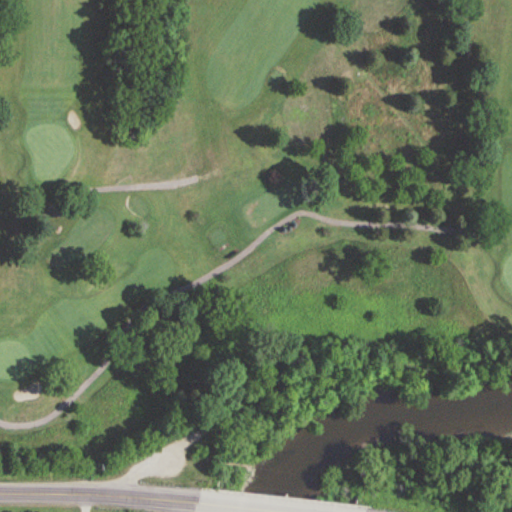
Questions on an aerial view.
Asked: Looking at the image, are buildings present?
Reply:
No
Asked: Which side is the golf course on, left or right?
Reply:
left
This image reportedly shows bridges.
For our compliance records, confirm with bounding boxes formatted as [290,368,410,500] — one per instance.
[199,490,368,512]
